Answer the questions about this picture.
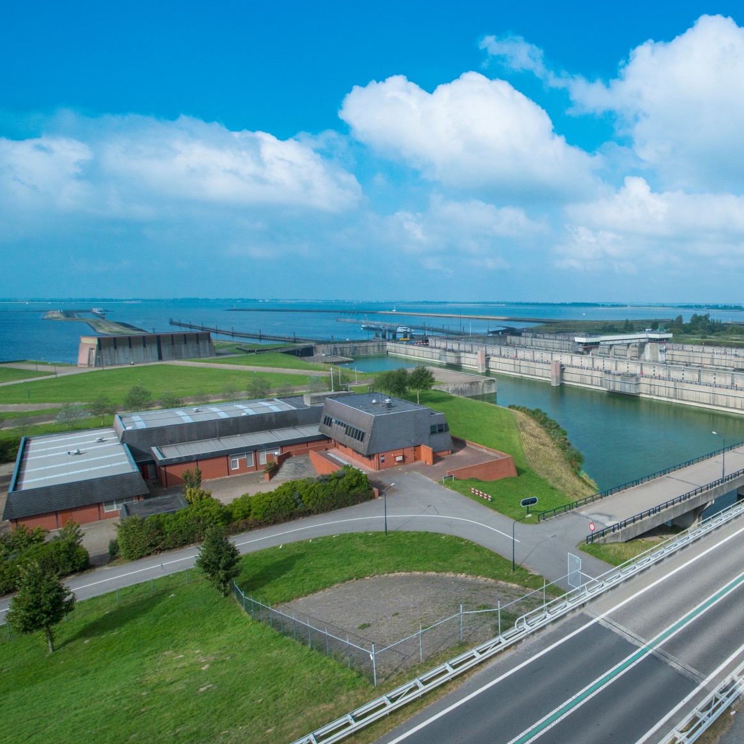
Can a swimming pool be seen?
No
